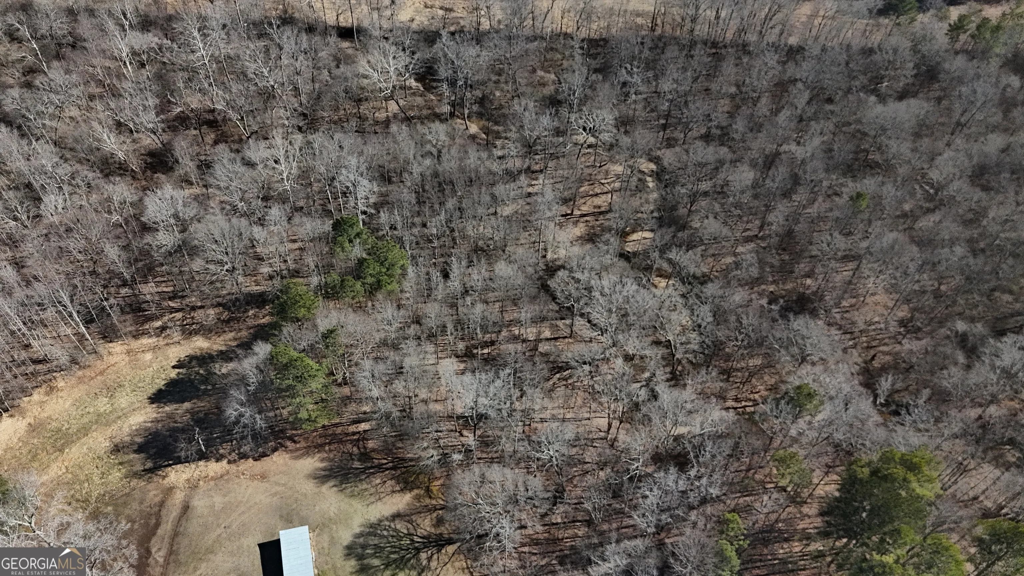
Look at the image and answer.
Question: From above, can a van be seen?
No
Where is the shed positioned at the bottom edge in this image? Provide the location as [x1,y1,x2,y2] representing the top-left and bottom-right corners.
[279,525,315,576]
